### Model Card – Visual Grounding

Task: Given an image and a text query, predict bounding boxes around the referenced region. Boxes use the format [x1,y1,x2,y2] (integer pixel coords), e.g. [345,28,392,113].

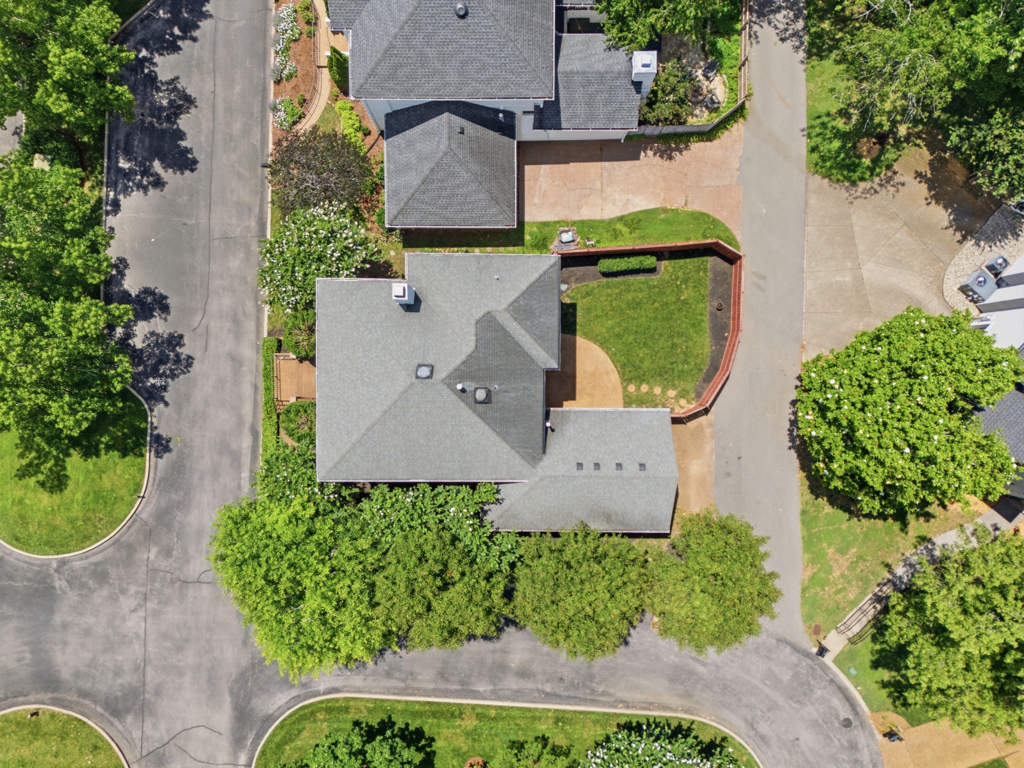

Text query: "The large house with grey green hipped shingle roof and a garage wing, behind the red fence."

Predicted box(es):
[314,252,677,534]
